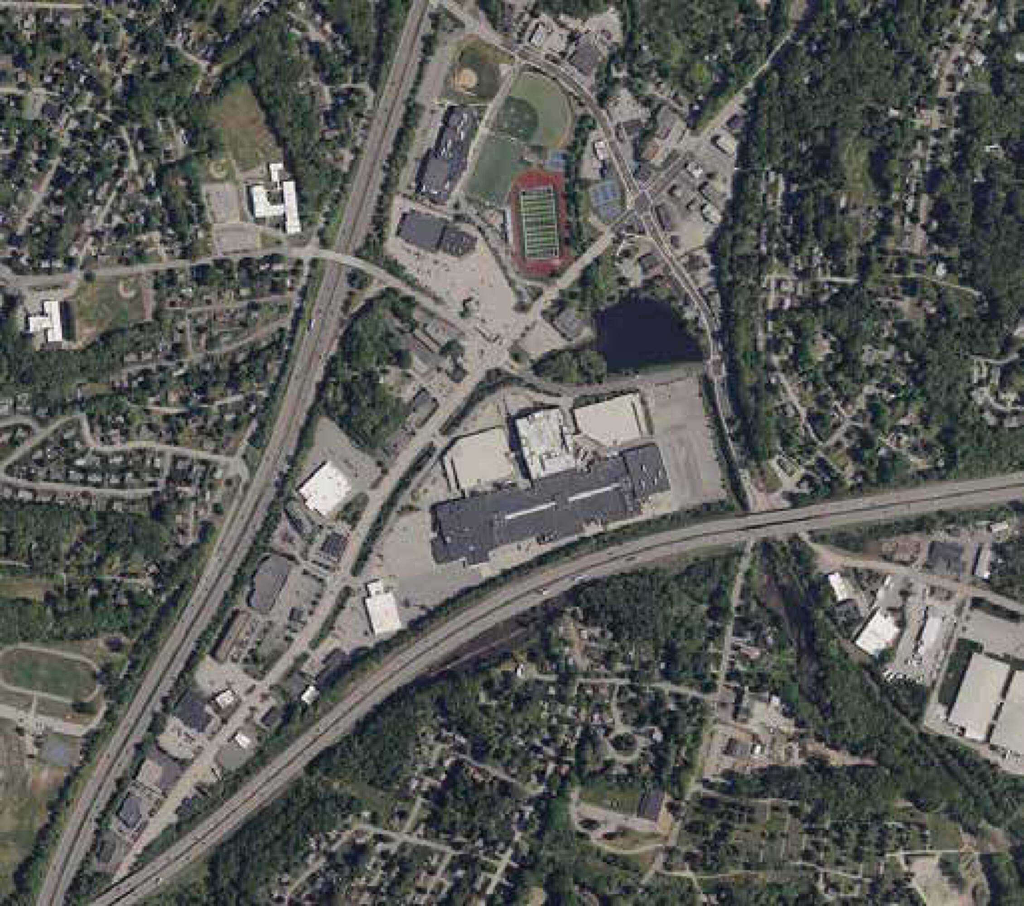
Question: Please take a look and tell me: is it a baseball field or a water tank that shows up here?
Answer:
baseball field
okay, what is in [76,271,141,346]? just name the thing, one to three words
sports field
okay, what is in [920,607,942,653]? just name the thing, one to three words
building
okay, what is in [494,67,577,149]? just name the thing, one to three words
baseball field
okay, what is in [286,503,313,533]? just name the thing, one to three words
building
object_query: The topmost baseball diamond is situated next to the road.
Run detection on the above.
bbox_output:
[442,36,514,105]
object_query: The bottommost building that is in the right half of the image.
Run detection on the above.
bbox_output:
[638,791,665,817]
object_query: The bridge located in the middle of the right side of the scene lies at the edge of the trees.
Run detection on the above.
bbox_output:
[743,508,800,538]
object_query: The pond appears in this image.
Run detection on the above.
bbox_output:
[592,291,704,371]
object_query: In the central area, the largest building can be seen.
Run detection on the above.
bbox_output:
[431,452,640,564]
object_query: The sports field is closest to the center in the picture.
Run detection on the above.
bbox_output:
[517,184,562,259]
